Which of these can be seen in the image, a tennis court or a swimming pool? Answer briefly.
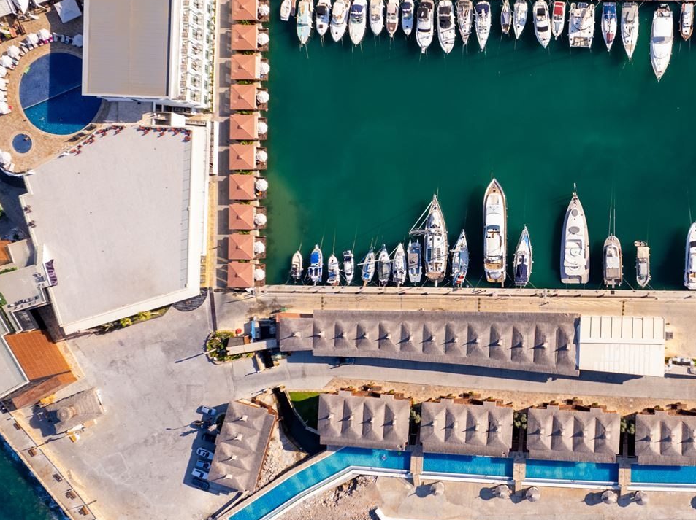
swimming pool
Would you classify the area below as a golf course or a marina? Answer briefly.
marina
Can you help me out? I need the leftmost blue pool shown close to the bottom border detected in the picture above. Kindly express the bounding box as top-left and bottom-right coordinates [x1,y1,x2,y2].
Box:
[226,445,412,520]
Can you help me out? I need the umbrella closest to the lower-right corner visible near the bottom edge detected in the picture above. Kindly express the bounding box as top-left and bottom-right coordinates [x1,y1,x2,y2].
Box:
[634,489,649,504]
